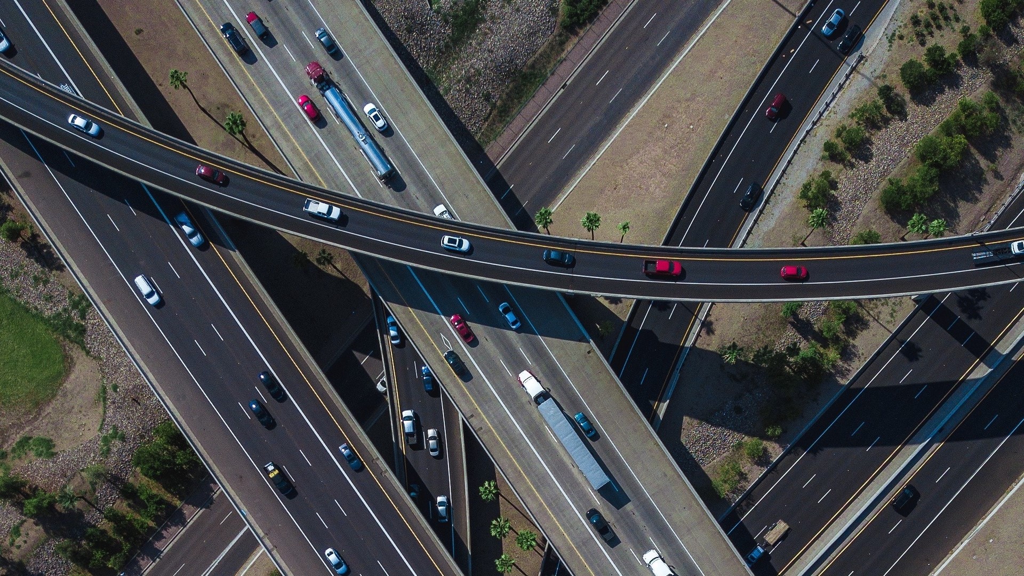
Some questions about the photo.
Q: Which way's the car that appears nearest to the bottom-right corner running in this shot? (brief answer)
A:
diagonally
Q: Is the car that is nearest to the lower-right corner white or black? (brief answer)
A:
black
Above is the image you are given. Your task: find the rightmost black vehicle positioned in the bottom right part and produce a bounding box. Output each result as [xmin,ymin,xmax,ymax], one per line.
[891,487,915,512]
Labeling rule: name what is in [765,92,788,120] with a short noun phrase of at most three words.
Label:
car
